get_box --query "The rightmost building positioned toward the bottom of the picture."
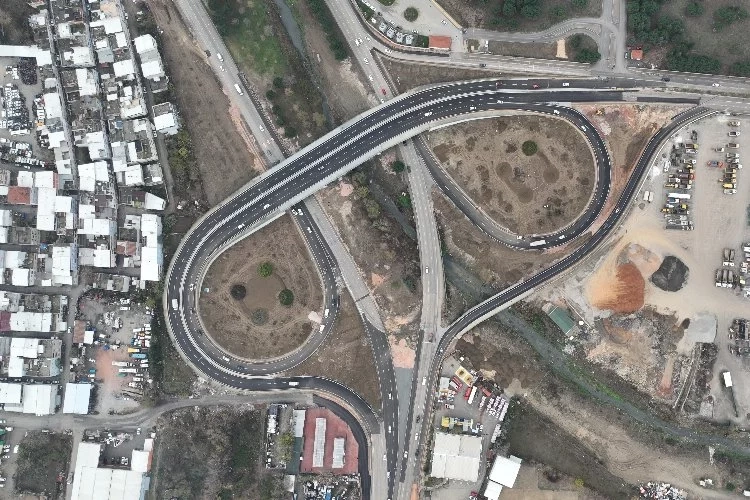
[547,306,576,334]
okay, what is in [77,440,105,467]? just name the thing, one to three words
house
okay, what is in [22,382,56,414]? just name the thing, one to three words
building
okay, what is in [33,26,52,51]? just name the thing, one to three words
house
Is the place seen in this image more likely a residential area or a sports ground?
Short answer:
residential area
